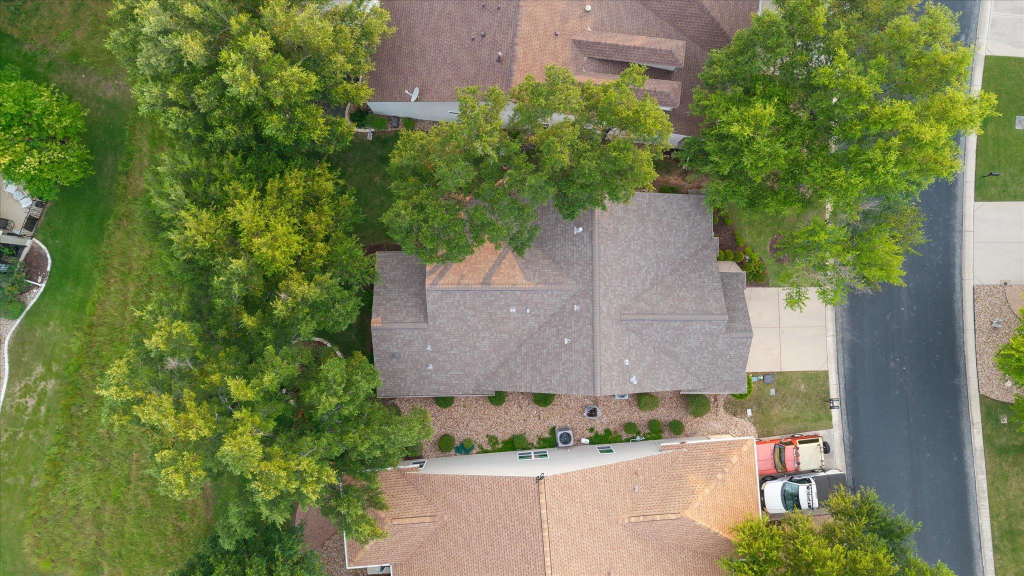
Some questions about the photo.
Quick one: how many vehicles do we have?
two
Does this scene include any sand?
No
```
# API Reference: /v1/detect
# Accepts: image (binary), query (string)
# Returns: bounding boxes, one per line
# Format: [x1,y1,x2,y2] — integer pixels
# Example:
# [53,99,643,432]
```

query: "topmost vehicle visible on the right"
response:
[758,434,828,475]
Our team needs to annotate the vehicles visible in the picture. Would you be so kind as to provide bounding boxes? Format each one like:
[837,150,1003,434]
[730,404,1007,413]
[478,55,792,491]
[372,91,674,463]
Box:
[758,434,828,475]
[761,468,854,515]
